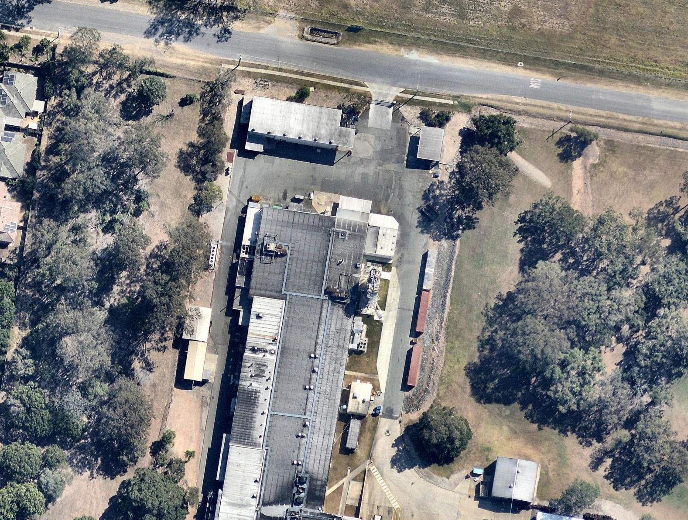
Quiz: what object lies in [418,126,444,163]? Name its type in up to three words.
shed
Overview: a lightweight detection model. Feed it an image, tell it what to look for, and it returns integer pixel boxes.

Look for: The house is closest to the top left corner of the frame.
[0,70,45,127]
